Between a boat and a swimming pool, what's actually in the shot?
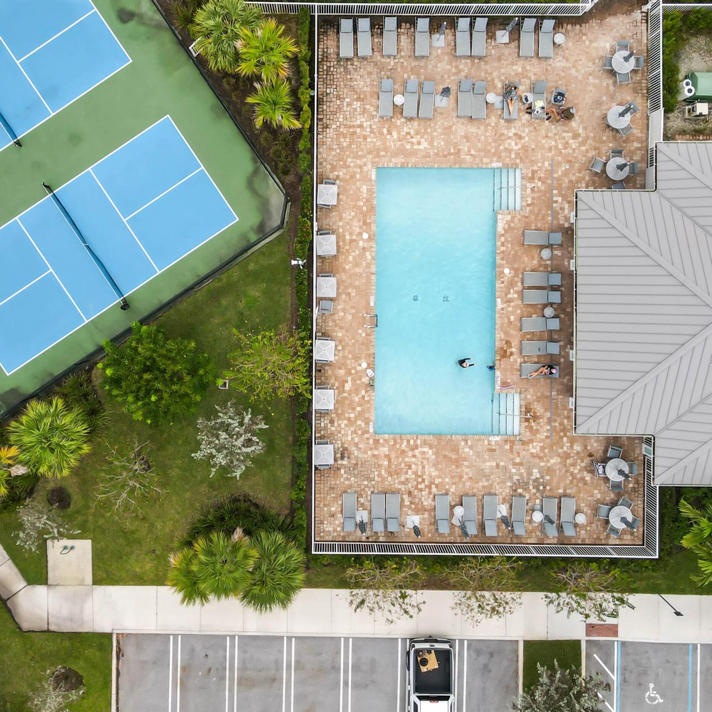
swimming pool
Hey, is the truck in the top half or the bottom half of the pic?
bottom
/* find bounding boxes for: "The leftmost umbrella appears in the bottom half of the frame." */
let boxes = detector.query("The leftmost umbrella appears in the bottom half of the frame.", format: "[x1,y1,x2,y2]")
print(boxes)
[357,510,369,535]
